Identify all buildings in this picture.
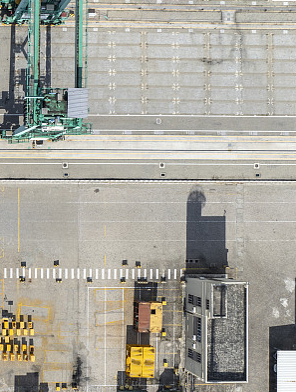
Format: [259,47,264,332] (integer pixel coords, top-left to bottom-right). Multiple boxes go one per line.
[269,351,296,392]
[184,279,249,386]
